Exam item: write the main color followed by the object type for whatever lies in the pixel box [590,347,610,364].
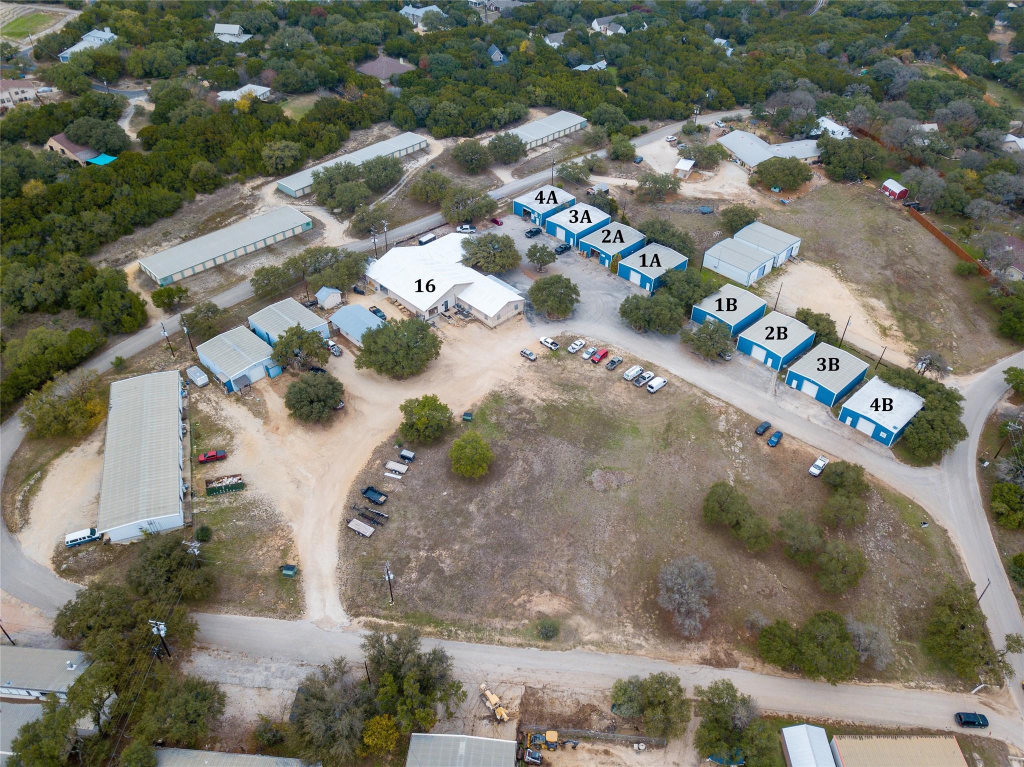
red vehicle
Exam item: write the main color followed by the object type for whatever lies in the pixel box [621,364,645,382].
white vehicle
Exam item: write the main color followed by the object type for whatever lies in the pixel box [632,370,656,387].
white vehicle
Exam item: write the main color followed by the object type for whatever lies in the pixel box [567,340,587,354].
white car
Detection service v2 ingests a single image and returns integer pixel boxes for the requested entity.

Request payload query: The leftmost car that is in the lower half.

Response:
[66,530,96,548]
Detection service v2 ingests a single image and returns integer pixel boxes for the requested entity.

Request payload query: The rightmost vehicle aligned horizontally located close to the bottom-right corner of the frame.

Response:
[950,709,993,731]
